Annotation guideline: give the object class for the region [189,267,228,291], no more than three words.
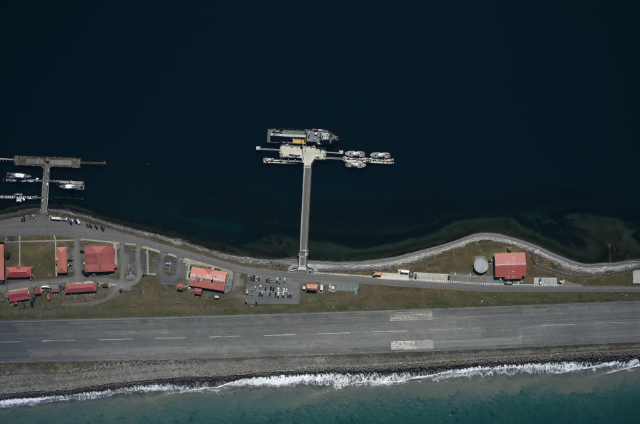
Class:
house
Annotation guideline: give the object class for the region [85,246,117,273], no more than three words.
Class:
building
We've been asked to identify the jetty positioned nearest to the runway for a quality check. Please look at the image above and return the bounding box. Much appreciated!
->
[256,145,343,273]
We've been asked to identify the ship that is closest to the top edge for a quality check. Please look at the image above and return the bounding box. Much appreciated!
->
[268,129,339,144]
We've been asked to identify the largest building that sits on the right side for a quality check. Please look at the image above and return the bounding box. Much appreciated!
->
[494,252,526,279]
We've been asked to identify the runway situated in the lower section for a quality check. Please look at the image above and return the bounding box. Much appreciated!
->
[0,301,640,363]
